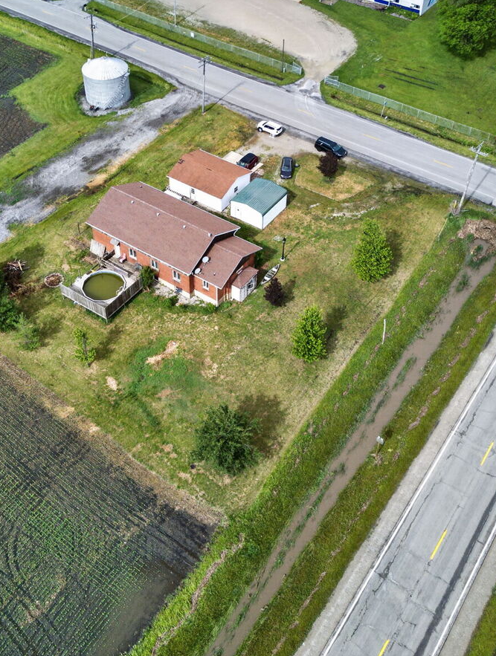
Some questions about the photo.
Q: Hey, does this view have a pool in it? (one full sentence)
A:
Yes, the picture does show a pool.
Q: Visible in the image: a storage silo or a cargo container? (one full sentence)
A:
It is a storage silo that can be seen here.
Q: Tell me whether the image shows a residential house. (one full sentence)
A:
Yes, a residential house appears in the view.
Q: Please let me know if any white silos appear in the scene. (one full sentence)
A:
Yes, a white silo can be made out from above.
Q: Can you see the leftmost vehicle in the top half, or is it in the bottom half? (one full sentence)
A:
The top half of the photo is where the leftmost vehicle is.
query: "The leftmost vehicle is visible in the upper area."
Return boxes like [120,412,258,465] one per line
[235,149,260,169]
